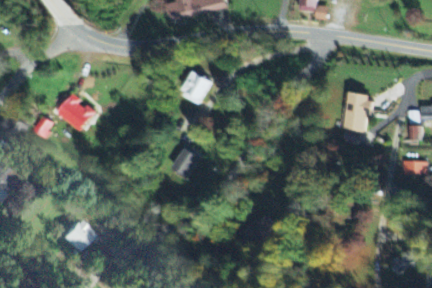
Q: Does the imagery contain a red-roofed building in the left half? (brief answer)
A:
Yes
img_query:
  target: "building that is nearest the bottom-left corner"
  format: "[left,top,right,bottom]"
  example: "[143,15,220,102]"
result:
[65,221,97,252]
